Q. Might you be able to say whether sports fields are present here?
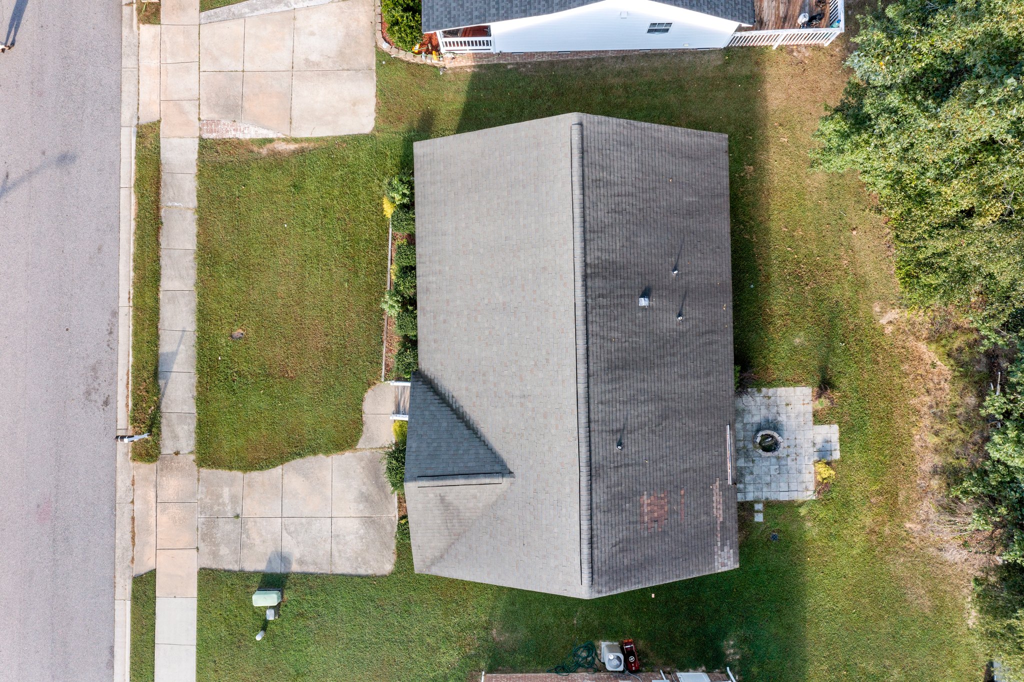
No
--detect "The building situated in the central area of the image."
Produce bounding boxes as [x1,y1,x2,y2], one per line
[405,112,739,600]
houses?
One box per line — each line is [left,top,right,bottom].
[484,664,737,682]
[405,112,739,600]
[422,0,755,67]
